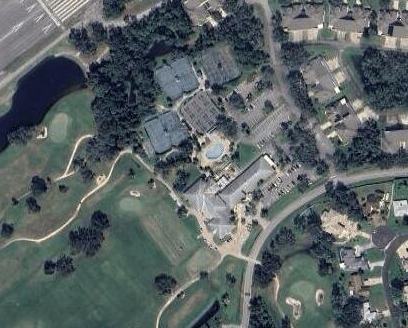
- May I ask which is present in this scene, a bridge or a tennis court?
tennis court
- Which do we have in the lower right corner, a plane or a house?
house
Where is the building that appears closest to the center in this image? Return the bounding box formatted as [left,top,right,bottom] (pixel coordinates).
[183,155,274,235]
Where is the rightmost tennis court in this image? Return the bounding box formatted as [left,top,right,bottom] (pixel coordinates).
[213,41,245,79]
